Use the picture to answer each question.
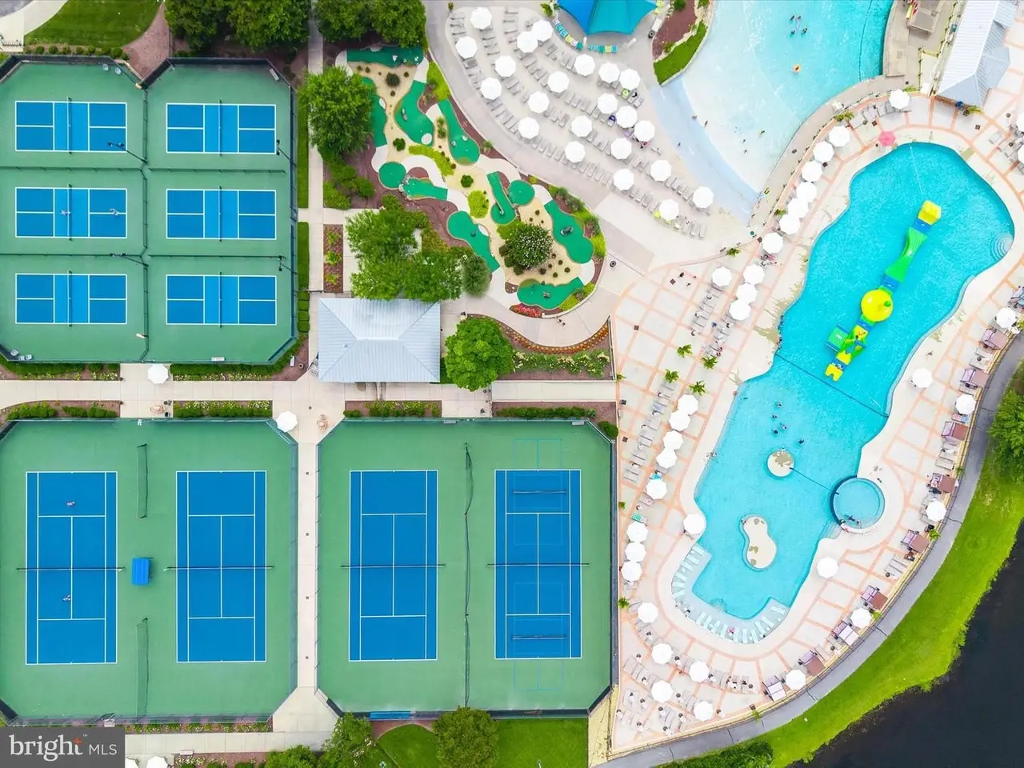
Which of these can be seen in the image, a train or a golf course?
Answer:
golf course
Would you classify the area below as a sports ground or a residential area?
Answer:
sports ground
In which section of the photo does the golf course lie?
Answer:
top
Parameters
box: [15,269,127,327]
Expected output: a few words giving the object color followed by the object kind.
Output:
blue sports court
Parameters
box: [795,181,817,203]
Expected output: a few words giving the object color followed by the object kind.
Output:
white umbrella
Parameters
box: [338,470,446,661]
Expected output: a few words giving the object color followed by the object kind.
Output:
blue tennis court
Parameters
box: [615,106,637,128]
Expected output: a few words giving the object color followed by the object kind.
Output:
white umbrella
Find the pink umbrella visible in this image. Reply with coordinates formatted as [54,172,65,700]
[873,130,895,148]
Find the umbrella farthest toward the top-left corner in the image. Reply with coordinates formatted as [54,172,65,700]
[149,363,171,384]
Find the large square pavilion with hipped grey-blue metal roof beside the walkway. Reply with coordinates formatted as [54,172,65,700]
[318,298,441,382]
